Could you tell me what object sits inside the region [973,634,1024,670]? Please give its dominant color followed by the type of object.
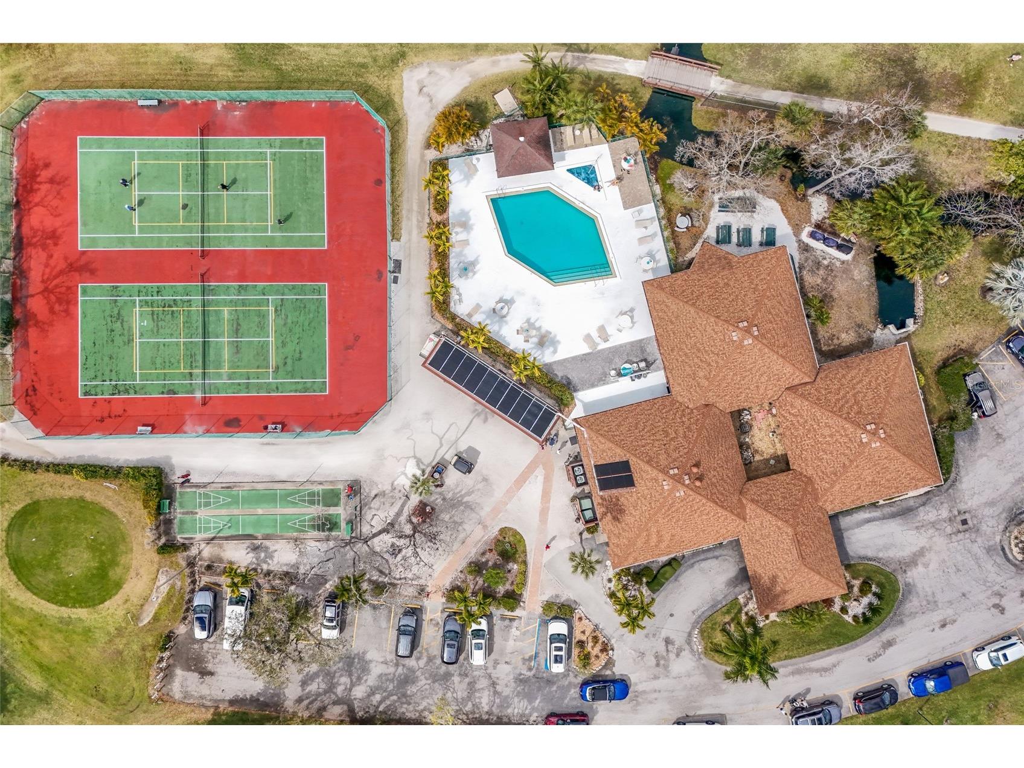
white car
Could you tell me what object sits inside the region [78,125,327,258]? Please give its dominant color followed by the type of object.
green tennis court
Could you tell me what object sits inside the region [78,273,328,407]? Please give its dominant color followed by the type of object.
green tennis court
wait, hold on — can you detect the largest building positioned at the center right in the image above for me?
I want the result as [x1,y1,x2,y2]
[558,241,944,616]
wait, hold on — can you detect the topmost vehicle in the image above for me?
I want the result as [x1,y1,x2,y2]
[1001,329,1024,374]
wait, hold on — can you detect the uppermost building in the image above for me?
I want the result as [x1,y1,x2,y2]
[490,117,554,180]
